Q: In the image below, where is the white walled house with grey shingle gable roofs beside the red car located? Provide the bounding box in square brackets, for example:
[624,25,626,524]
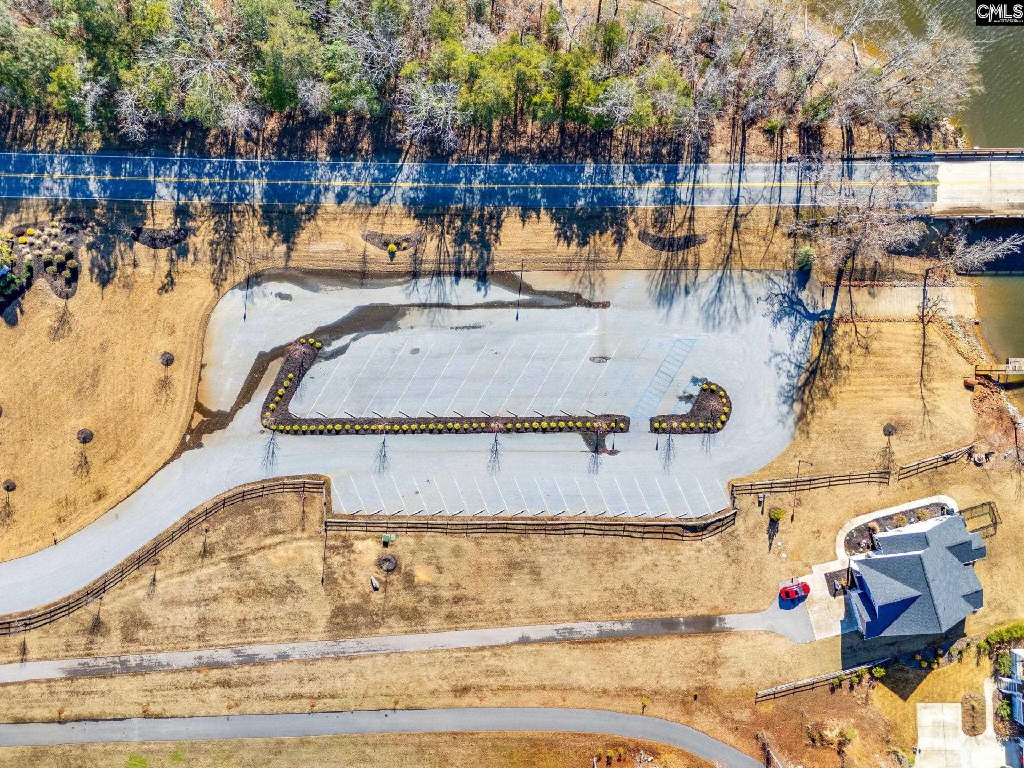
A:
[836,513,985,641]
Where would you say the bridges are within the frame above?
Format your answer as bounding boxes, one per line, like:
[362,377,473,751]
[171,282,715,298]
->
[931,153,1024,219]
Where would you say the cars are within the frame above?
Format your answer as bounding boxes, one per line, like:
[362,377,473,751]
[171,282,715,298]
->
[781,583,811,601]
